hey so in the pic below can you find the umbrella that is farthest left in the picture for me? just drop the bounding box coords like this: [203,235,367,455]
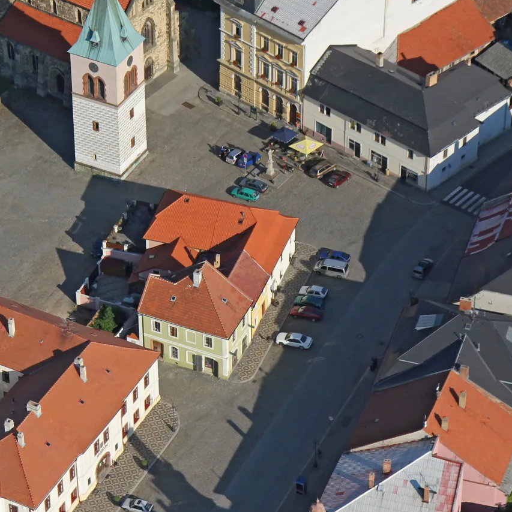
[267,128,302,152]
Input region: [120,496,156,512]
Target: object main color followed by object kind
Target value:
gray car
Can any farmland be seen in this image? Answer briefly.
No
